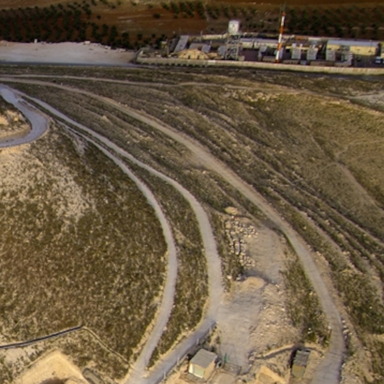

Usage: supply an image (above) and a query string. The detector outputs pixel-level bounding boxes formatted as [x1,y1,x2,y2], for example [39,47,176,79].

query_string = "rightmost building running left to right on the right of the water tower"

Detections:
[323,36,384,55]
